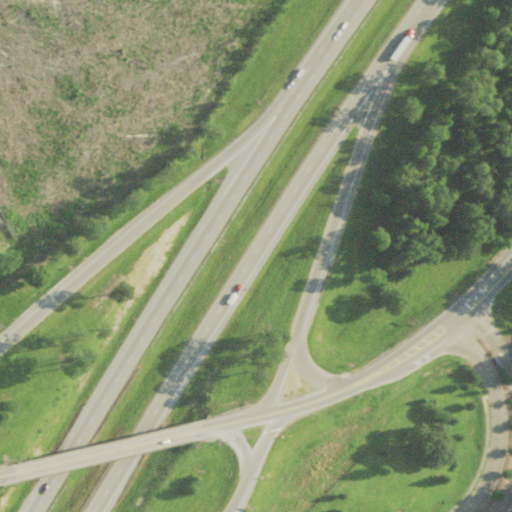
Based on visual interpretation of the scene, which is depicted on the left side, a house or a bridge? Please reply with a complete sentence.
The one visible on the left side is a bridge.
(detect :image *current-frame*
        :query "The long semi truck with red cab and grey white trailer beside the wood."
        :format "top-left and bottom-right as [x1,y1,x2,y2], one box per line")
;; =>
[390,30,418,64]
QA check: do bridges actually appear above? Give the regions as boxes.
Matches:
[14,419,210,484]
